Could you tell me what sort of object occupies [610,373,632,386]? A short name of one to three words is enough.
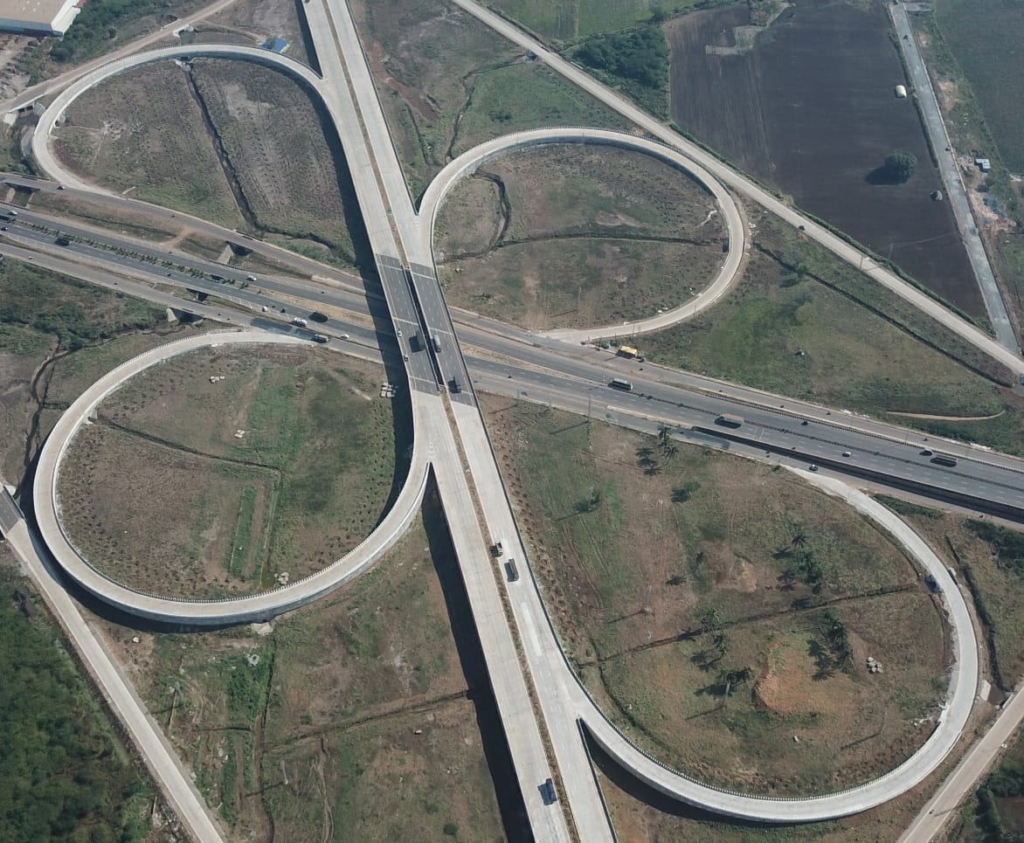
vehicle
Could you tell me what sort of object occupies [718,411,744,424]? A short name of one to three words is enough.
vehicle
